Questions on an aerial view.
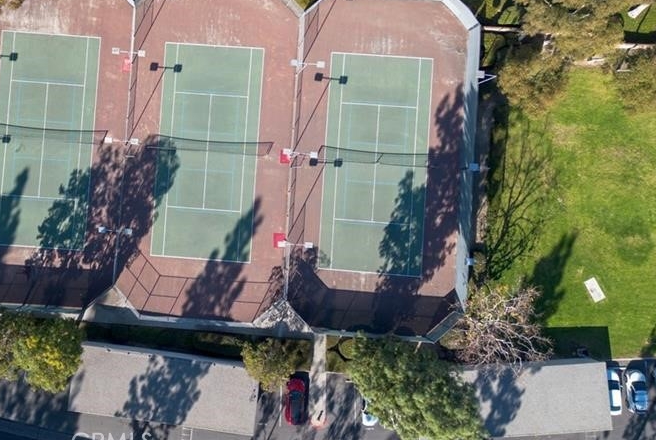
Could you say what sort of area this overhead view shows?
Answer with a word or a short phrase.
sports ground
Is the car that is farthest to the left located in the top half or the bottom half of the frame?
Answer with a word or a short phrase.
bottom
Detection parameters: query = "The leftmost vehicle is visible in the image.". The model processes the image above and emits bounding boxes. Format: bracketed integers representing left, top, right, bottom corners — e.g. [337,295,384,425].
[287,380,308,425]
